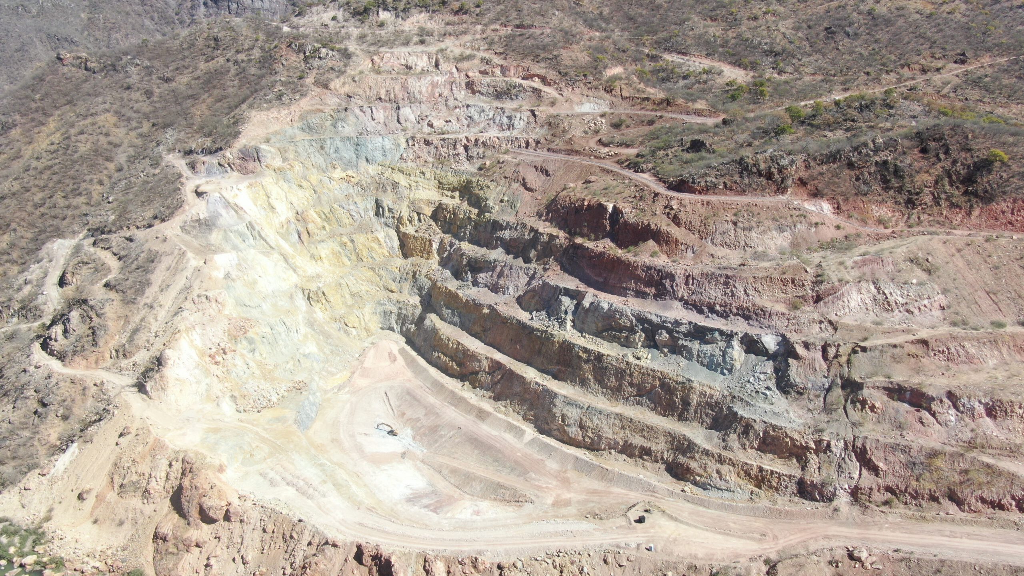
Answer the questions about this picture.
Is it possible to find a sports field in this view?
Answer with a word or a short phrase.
No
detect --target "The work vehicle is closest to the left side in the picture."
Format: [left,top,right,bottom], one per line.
[375,419,401,434]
